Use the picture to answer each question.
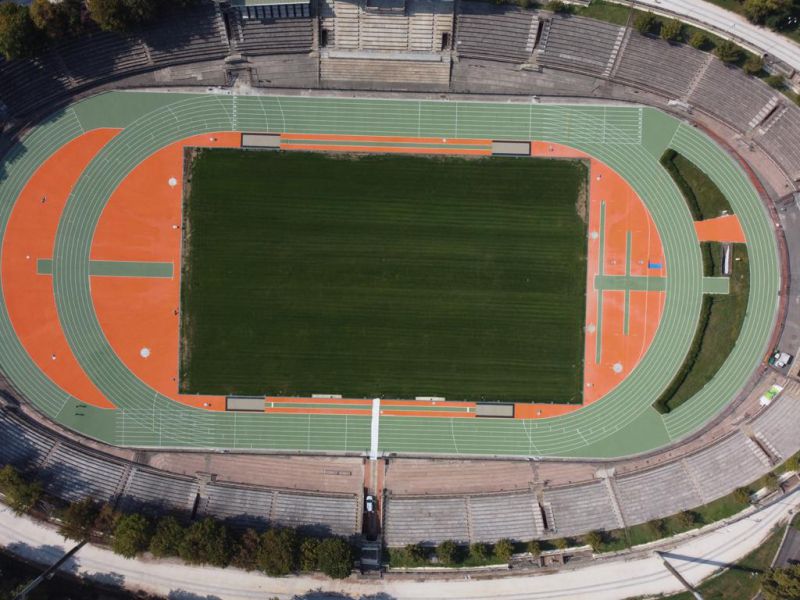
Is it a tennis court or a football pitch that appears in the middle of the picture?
football pitch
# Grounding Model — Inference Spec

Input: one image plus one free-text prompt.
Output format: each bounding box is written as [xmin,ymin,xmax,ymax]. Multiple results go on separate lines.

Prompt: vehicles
[365,496,373,512]
[774,352,794,365]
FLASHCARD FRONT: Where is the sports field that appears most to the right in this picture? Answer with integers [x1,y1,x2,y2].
[695,215,745,243]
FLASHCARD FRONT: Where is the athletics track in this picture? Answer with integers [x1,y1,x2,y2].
[0,90,781,459]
